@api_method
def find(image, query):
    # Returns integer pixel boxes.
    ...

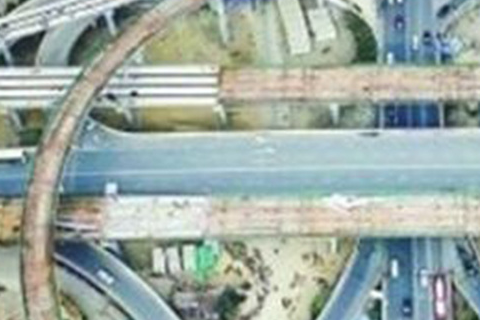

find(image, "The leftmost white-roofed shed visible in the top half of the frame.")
[279,0,310,61]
